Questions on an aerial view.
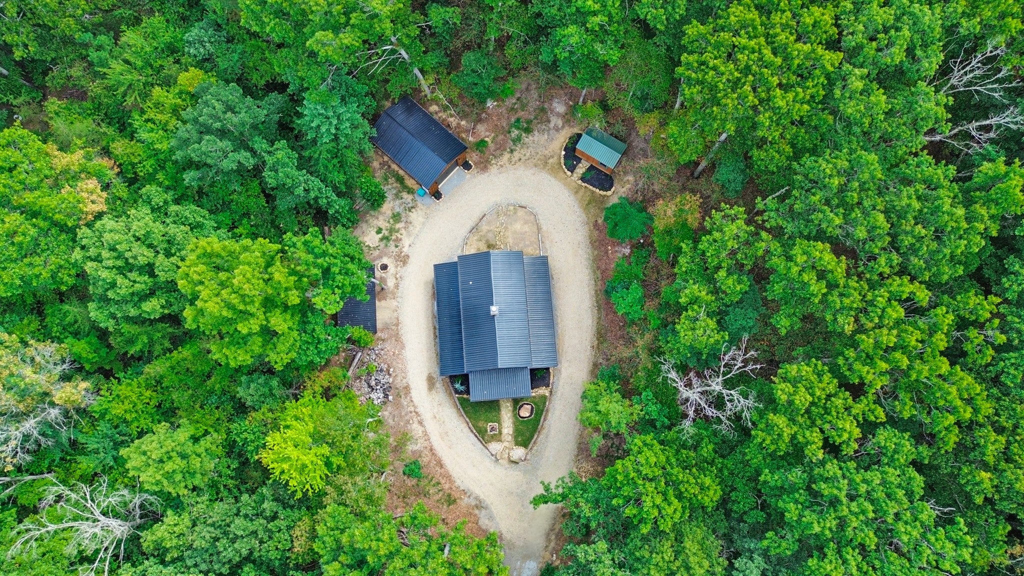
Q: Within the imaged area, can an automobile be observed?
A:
No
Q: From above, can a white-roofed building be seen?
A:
No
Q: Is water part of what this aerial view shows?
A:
No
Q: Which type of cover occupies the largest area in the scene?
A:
trees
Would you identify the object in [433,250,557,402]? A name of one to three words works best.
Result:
building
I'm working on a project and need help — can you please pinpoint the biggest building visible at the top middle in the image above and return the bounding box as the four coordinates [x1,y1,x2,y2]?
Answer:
[369,96,468,195]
